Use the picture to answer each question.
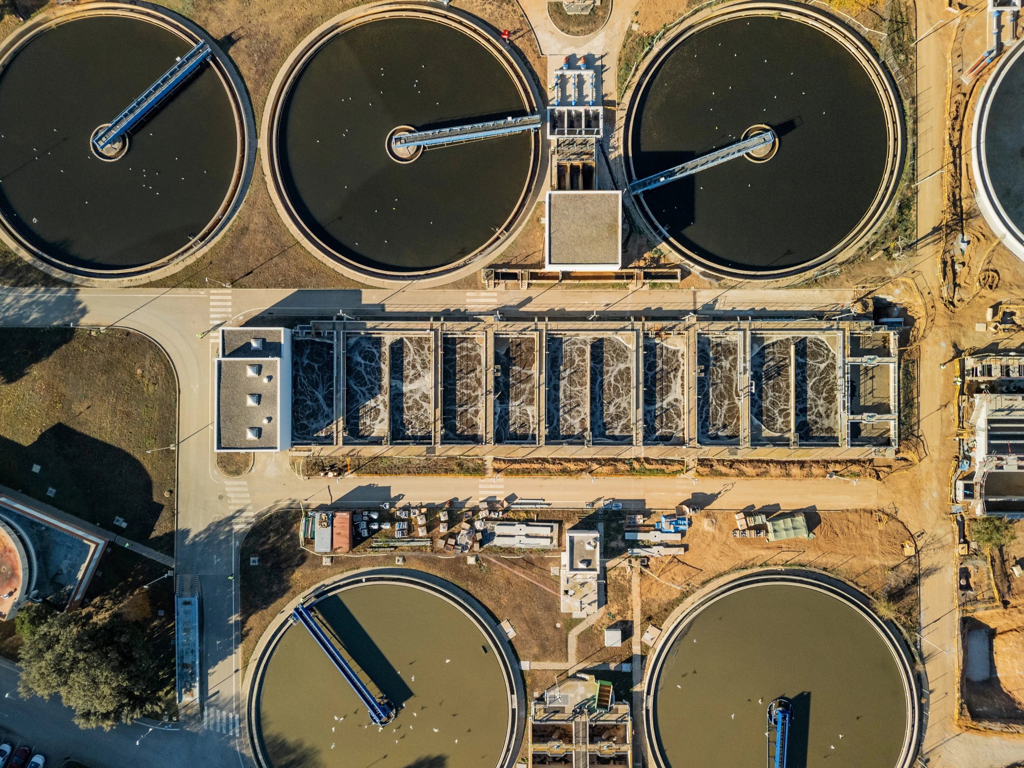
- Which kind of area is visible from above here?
industrial area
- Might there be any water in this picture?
Yes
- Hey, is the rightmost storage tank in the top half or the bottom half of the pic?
top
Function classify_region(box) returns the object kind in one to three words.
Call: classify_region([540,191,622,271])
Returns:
building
